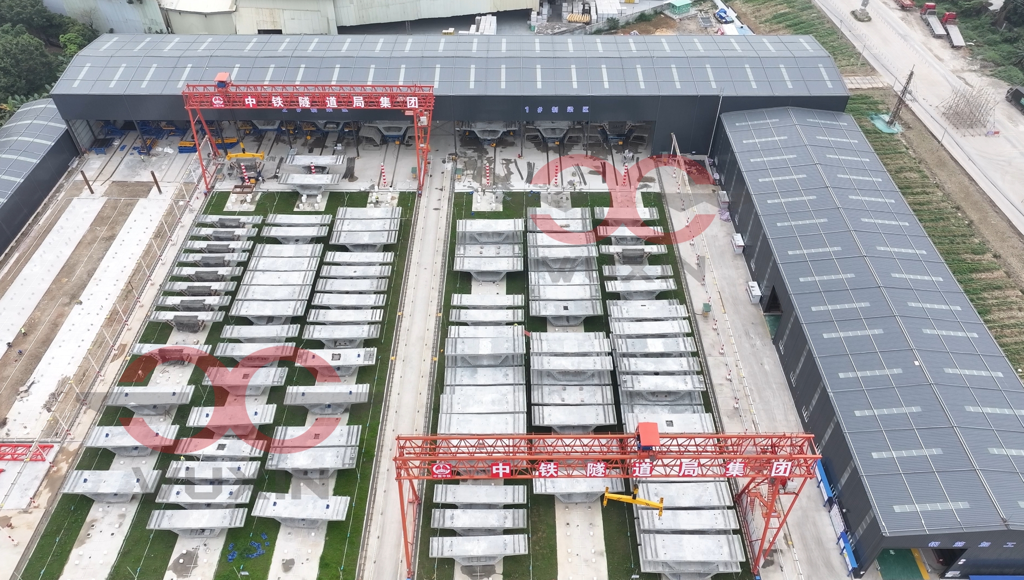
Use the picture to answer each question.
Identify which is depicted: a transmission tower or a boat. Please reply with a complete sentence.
Of the two, only a transmission tower appears.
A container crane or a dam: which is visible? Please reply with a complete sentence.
The one in the frame is a container crane.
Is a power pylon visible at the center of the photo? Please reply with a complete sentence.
No, the scene shows no power pylon at the center of the photo.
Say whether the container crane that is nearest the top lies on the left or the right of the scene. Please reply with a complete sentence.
You can find the container crane that is nearest the top on the left side of the picture.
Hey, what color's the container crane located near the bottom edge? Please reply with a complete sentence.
The container crane located near the bottom edge looks red in the image.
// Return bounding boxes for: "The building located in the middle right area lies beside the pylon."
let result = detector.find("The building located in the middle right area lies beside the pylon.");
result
[708,106,1024,580]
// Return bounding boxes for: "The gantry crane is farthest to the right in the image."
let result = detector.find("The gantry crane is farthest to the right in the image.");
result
[393,425,824,579]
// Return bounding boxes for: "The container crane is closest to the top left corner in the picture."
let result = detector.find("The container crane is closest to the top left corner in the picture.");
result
[177,78,431,193]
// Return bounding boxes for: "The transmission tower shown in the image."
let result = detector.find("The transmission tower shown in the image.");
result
[890,59,926,127]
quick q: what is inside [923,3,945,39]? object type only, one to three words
truck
